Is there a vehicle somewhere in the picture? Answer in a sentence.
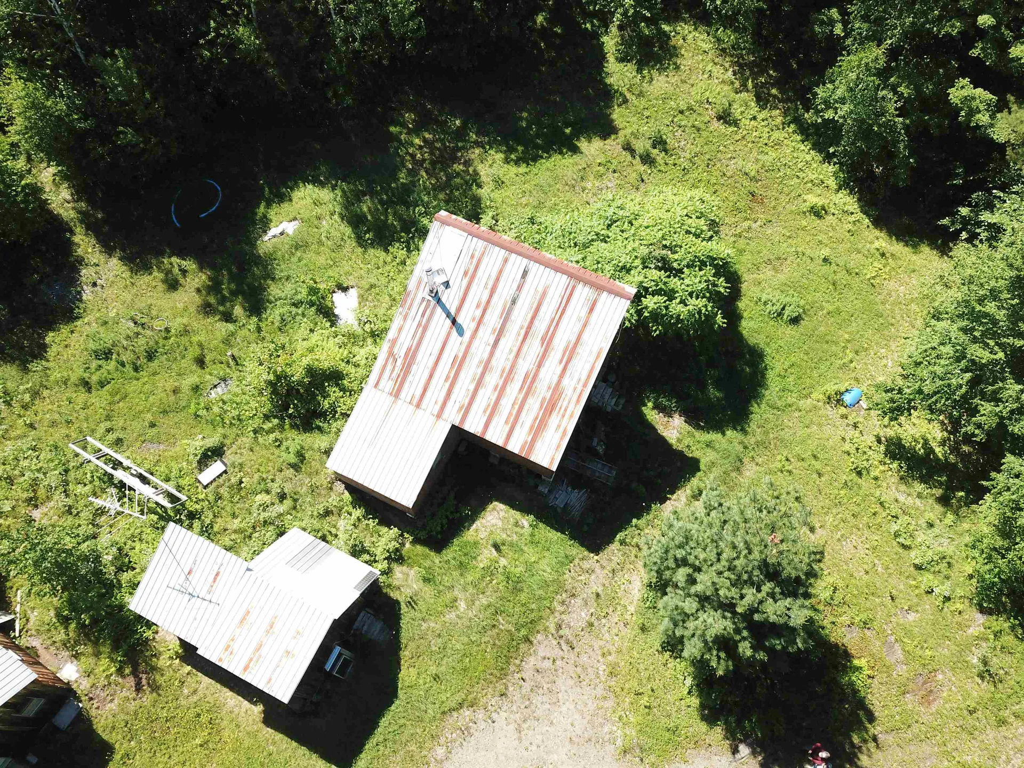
No, I find no vehicle anywhere in the image.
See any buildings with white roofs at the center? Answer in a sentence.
Yes, there is a building with a white roof at the center.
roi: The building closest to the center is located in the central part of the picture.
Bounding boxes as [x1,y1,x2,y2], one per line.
[332,209,637,517]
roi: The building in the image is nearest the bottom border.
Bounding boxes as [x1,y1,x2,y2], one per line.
[0,632,71,757]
